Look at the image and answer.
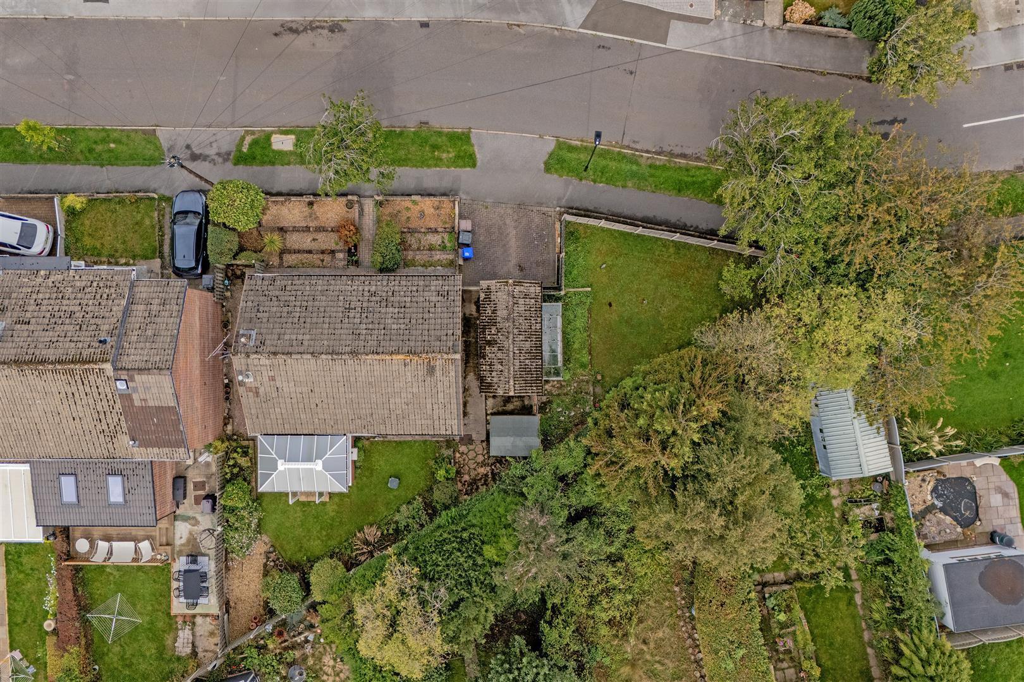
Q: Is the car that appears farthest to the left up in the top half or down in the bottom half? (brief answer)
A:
top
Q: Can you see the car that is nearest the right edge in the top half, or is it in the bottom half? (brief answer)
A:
top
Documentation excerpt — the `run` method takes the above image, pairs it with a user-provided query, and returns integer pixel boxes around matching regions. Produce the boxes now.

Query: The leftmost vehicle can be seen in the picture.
[0,206,57,248]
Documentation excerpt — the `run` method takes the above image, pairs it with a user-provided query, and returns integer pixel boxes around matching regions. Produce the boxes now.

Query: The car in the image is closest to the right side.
[164,190,211,277]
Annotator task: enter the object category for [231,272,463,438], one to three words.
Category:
house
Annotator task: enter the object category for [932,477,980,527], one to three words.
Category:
pond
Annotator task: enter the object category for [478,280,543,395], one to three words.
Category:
building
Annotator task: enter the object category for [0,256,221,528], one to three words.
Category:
house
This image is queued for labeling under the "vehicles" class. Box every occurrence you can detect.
[164,190,211,277]
[0,206,57,248]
